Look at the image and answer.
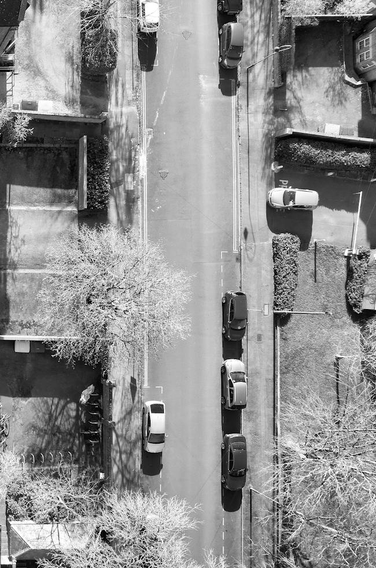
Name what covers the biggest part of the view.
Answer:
paved ground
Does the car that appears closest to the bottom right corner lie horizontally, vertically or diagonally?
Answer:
vertically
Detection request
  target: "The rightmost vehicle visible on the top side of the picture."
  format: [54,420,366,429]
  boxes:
[266,187,321,212]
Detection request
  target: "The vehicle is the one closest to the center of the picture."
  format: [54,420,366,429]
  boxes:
[221,293,249,340]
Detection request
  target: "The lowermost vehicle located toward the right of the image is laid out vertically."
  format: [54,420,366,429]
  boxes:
[221,435,247,488]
